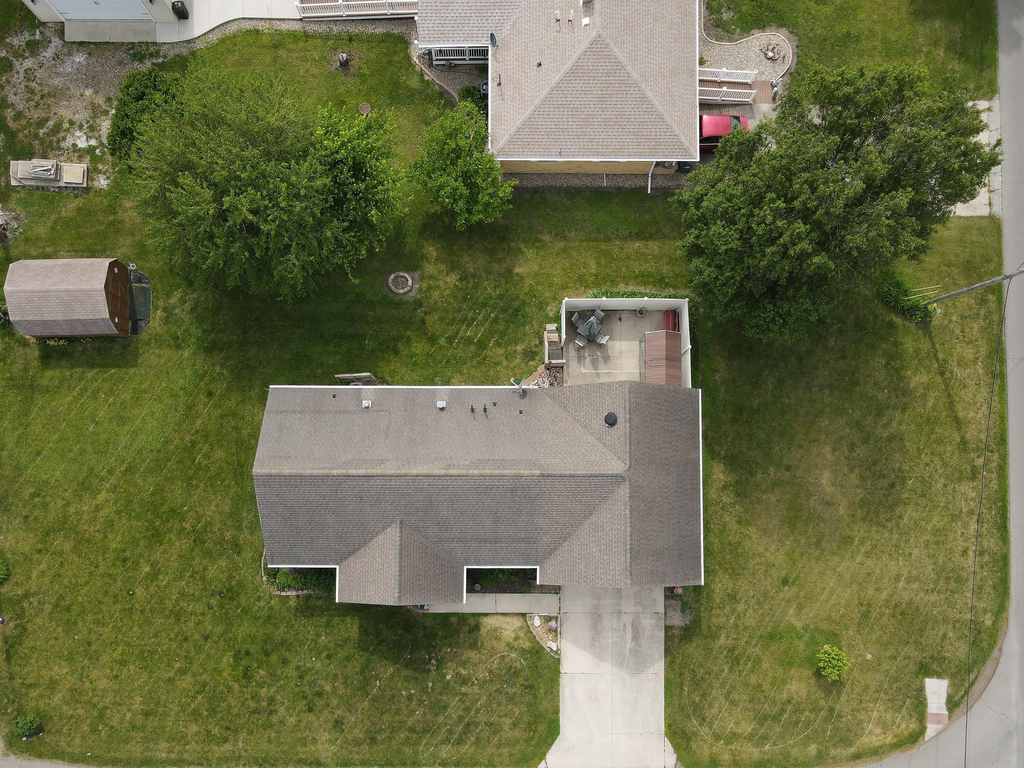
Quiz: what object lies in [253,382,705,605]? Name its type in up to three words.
house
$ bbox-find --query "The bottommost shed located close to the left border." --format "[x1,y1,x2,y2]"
[6,259,132,338]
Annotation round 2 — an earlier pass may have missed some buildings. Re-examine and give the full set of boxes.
[417,0,702,193]
[253,382,705,605]
[6,259,132,338]
[22,0,178,24]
